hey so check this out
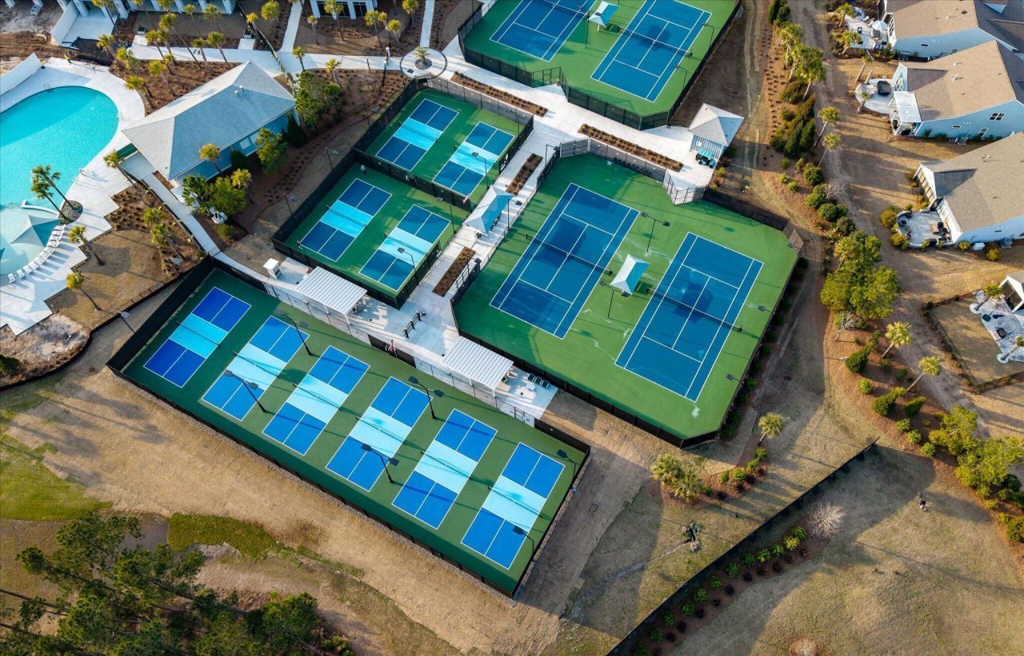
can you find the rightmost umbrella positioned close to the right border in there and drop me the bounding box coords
[984,308,1002,322]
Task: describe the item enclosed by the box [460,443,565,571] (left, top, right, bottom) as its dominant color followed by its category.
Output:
blue sports court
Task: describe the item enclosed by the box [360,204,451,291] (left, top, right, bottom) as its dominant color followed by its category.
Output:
blue sports court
